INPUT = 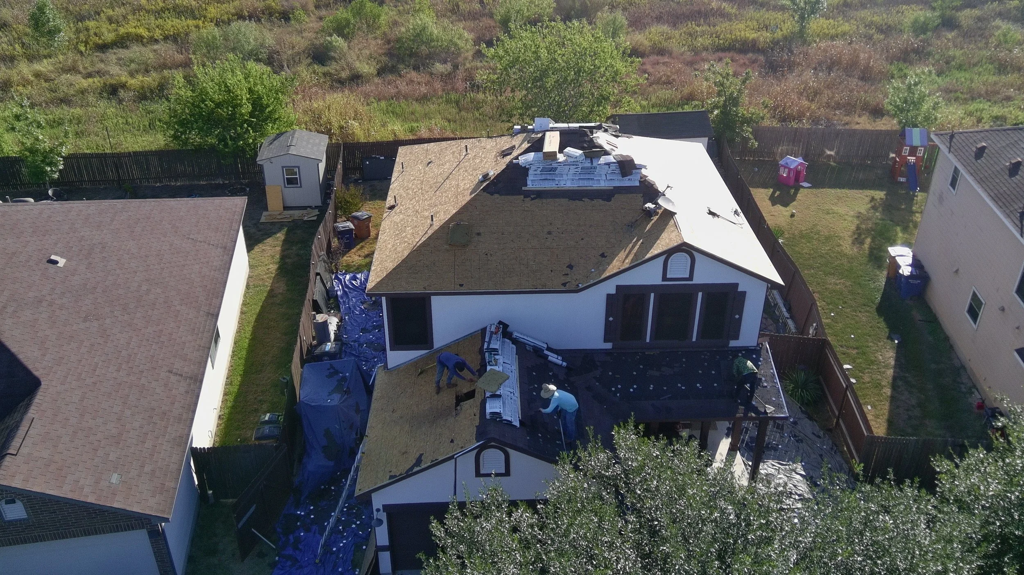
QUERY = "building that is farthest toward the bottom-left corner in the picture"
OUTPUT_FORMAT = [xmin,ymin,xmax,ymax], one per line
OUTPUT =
[0,196,250,575]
